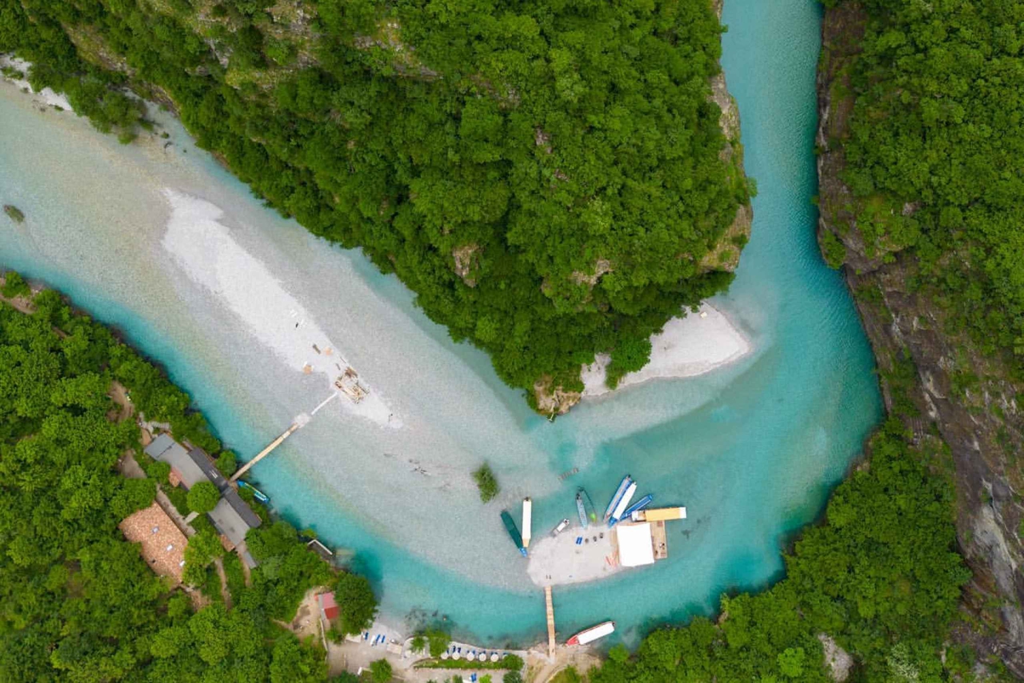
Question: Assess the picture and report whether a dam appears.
No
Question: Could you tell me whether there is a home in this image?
Yes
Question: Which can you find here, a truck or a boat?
boat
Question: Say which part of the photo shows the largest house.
bottom left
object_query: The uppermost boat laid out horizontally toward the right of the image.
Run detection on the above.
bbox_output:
[631,508,687,523]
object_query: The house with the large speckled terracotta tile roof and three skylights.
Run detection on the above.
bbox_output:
[119,501,192,582]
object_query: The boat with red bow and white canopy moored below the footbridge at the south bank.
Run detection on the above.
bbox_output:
[567,623,616,646]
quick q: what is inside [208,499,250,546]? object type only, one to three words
building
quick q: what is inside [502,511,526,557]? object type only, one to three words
boat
